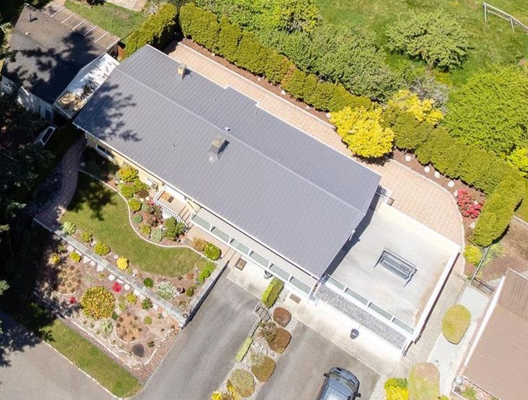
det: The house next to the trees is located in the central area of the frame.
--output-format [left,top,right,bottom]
[70,45,461,370]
